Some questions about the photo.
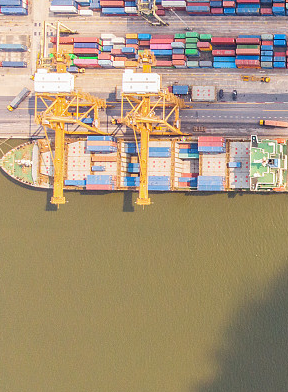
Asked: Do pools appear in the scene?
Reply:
No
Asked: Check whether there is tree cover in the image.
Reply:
No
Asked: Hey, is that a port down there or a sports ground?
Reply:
port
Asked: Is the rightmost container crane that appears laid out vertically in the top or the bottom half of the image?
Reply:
top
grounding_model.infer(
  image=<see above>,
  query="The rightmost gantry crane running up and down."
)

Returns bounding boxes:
[123,51,195,208]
